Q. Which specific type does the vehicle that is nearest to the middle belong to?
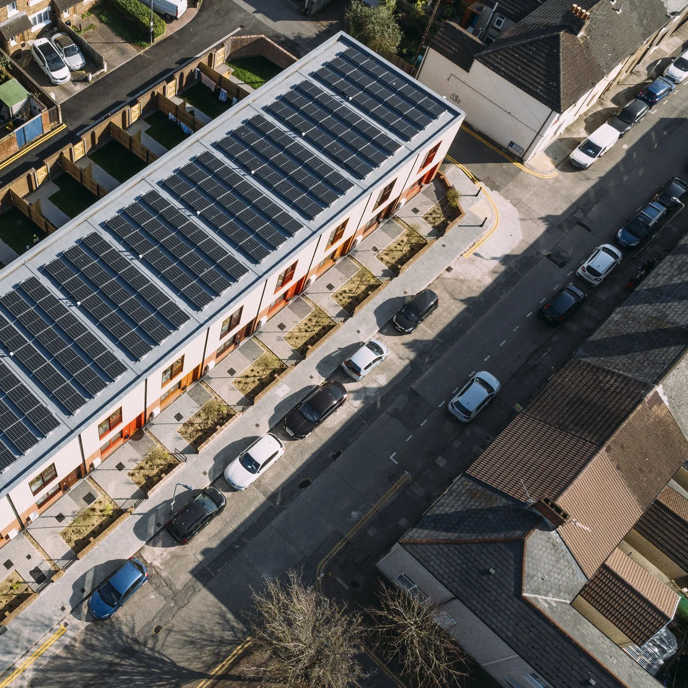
automobile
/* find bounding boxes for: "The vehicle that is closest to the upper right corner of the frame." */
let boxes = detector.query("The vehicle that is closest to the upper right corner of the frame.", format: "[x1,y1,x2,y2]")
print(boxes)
[661,43,688,85]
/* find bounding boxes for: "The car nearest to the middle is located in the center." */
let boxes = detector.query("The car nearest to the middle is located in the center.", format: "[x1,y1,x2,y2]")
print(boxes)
[339,334,396,388]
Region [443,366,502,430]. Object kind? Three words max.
car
